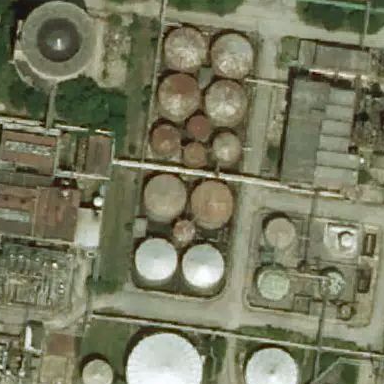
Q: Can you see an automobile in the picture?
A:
No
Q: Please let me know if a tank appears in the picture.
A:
Yes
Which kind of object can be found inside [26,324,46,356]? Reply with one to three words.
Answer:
house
